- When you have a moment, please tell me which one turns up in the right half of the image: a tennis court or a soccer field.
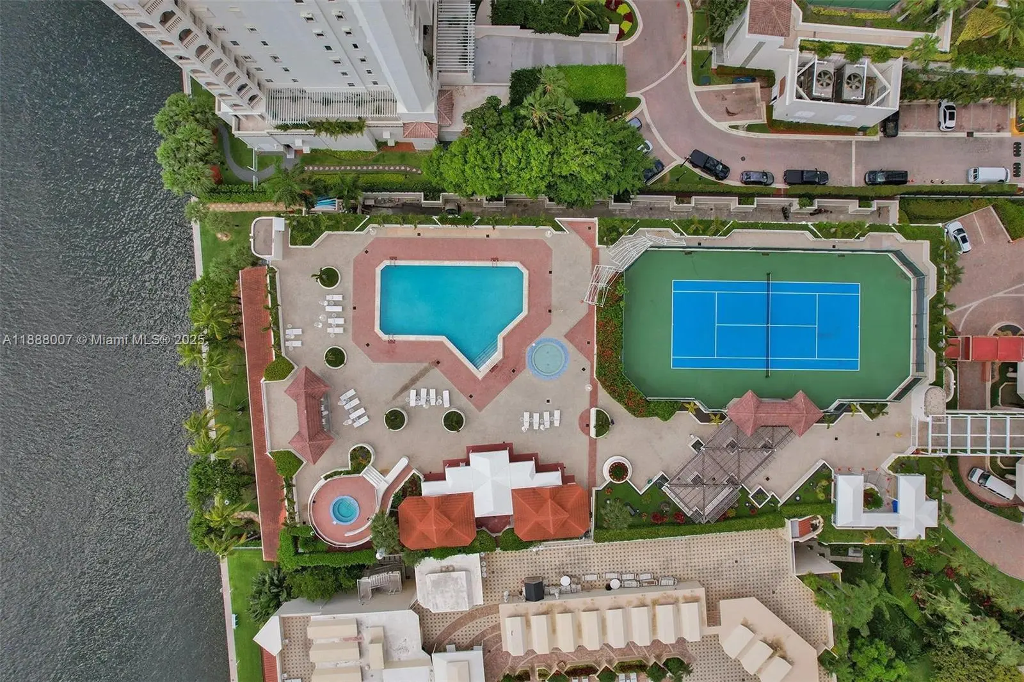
tennis court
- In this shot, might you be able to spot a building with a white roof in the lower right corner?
Yes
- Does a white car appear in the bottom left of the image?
No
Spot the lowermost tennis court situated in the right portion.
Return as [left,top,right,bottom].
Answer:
[623,249,909,410]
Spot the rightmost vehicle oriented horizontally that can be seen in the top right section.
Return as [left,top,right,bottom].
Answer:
[962,165,1013,185]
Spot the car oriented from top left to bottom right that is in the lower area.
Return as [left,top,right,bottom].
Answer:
[966,466,1014,501]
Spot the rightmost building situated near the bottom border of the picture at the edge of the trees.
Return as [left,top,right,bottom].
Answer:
[712,589,818,682]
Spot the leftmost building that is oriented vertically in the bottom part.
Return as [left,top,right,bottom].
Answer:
[284,367,334,465]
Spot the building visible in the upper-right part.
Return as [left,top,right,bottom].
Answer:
[724,0,796,125]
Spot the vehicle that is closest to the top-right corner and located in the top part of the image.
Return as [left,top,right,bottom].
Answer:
[936,102,957,134]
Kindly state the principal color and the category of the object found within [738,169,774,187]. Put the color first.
gray car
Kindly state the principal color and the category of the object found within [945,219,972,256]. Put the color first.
white car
